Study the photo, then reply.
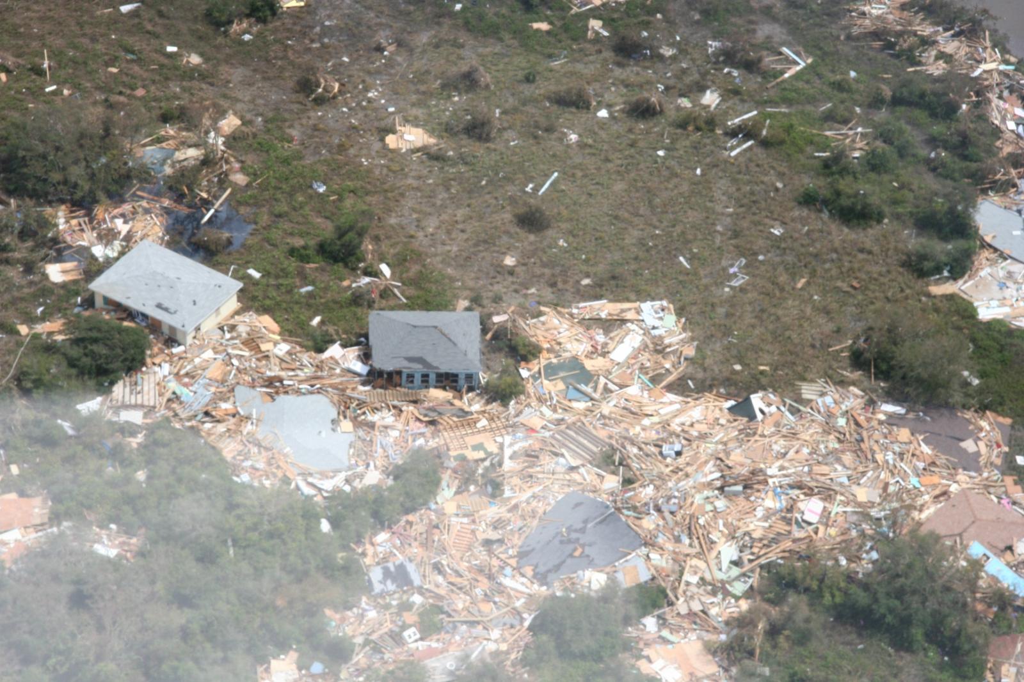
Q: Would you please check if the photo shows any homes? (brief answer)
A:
Yes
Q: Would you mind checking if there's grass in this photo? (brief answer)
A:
Yes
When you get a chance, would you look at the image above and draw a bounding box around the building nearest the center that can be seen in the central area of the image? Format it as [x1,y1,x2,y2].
[366,311,481,391]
